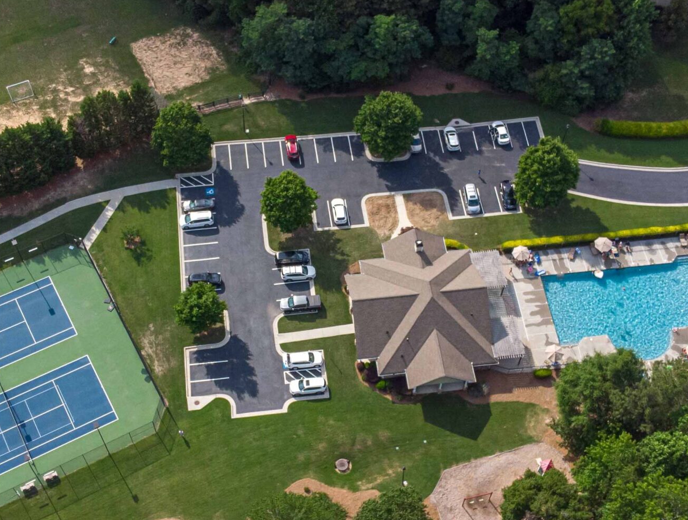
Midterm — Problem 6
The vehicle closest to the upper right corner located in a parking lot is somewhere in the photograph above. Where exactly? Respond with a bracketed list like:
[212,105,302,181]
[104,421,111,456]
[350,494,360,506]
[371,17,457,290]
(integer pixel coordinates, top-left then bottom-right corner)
[489,122,509,146]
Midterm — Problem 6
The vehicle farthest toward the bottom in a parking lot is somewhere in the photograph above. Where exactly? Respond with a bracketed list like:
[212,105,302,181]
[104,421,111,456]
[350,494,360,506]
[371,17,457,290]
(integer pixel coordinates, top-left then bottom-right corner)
[291,377,327,395]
